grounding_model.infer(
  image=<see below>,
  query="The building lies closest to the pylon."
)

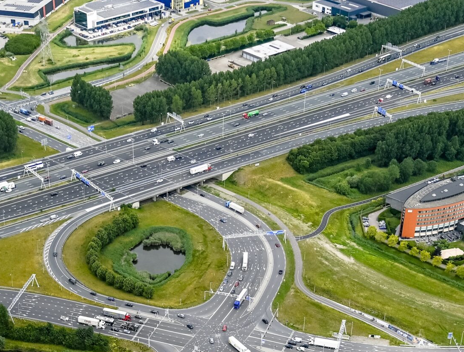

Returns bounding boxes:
[0,0,63,25]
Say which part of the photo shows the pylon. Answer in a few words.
top left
